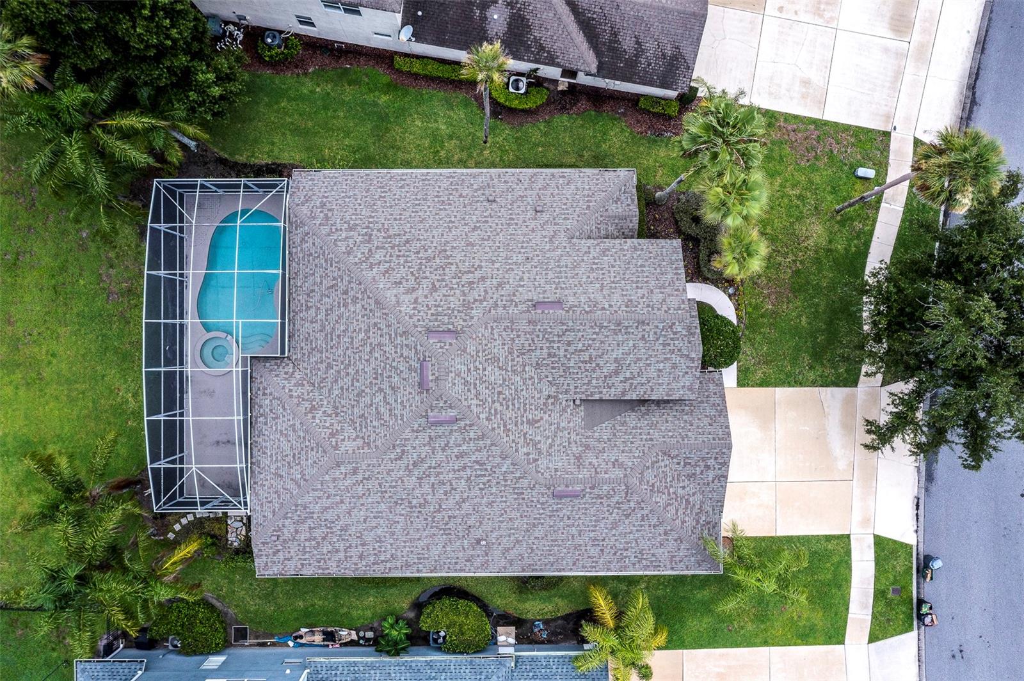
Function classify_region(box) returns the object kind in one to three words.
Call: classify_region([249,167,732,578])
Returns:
house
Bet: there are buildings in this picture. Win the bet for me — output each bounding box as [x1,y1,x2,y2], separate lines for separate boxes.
[73,638,609,681]
[199,0,709,99]
[249,167,732,578]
